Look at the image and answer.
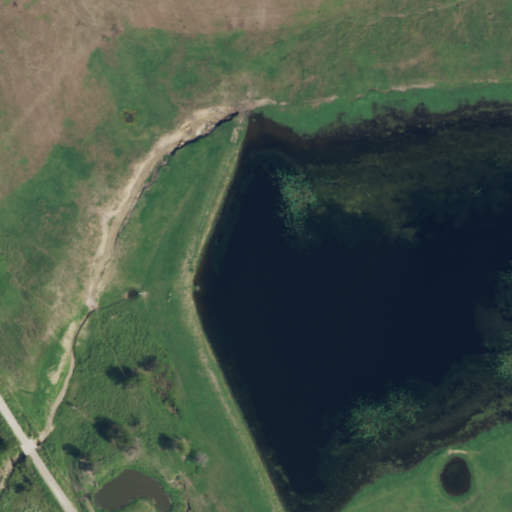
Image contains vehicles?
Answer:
No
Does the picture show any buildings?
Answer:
No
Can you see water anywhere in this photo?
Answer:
Yes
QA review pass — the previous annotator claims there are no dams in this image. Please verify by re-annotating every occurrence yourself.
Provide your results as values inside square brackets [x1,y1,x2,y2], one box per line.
[148,112,290,512]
